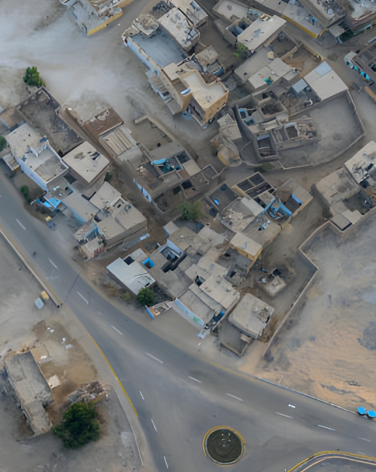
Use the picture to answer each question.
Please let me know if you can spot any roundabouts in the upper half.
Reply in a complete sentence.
No, I see no roundabout in the upper half.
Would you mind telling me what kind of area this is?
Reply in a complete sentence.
It's a residential area.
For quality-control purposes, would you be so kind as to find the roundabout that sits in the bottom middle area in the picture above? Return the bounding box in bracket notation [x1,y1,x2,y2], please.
[204,426,244,464]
